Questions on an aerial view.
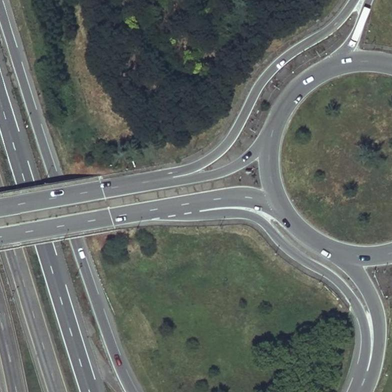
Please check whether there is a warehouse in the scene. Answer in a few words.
No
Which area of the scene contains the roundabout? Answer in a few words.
right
